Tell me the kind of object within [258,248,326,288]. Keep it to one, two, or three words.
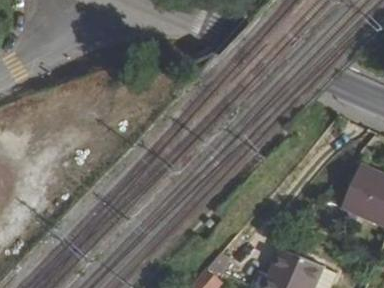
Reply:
house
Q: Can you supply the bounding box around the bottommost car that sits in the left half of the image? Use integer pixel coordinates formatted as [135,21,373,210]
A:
[4,32,16,51]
